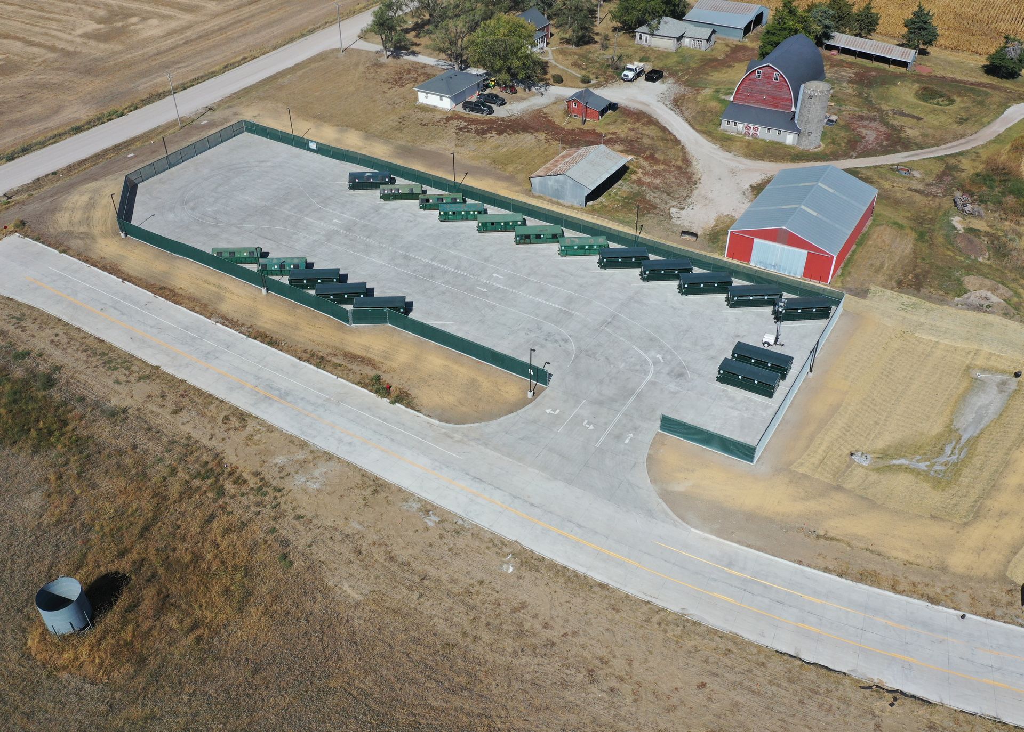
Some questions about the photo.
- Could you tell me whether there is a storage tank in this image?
Yes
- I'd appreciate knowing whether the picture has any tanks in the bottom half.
Yes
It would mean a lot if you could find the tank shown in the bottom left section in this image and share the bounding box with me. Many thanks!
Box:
[35,574,93,642]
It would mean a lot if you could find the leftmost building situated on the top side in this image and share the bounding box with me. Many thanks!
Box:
[412,68,486,111]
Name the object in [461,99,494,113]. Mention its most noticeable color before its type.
black vehicle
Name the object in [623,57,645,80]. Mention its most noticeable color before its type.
white truck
